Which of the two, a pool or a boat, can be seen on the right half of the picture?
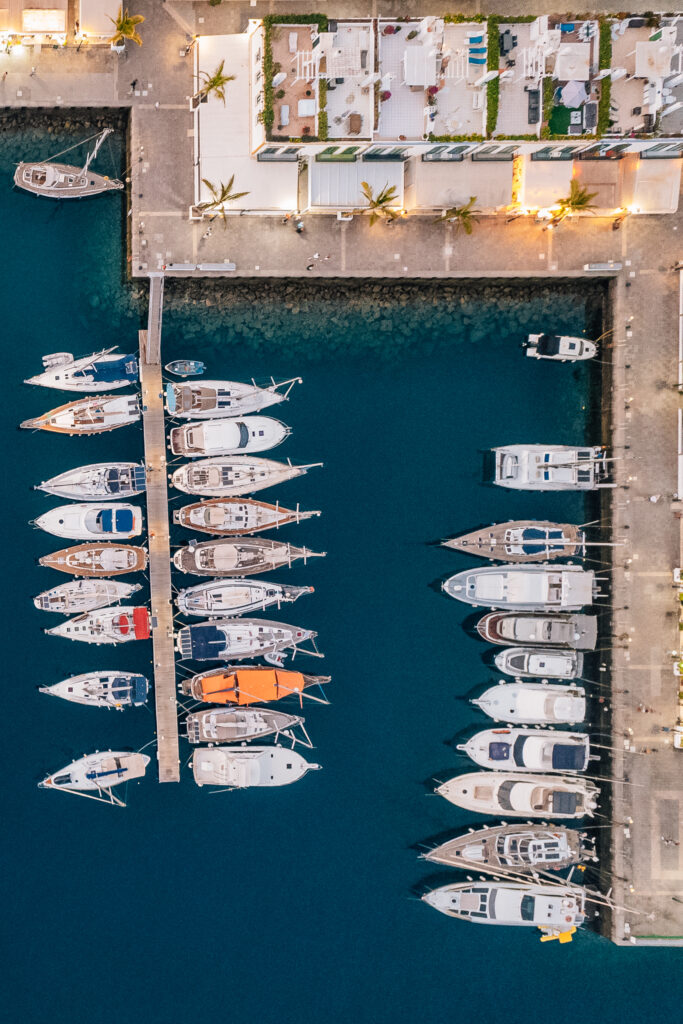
boat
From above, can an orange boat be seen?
Yes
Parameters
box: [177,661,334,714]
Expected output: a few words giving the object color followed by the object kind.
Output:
orange boat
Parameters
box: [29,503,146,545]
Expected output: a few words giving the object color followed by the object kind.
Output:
white boat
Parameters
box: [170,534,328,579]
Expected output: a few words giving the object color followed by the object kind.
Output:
gray boat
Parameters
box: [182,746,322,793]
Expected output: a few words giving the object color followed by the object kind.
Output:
white boat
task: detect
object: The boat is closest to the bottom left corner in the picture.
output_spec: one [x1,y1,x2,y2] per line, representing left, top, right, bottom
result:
[37,740,156,806]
